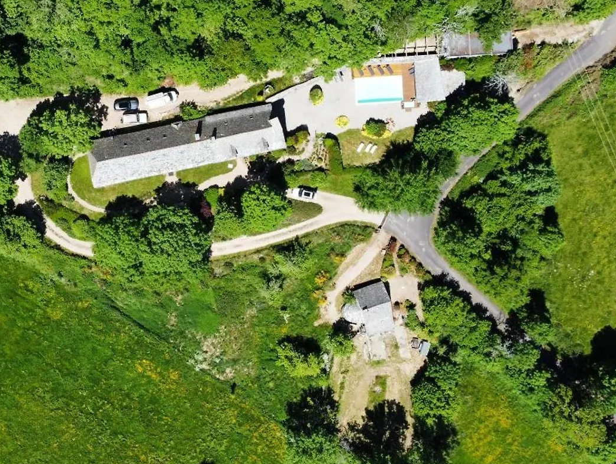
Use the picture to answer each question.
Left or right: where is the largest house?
left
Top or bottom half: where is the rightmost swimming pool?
top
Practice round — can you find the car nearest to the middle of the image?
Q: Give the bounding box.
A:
[287,185,316,200]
